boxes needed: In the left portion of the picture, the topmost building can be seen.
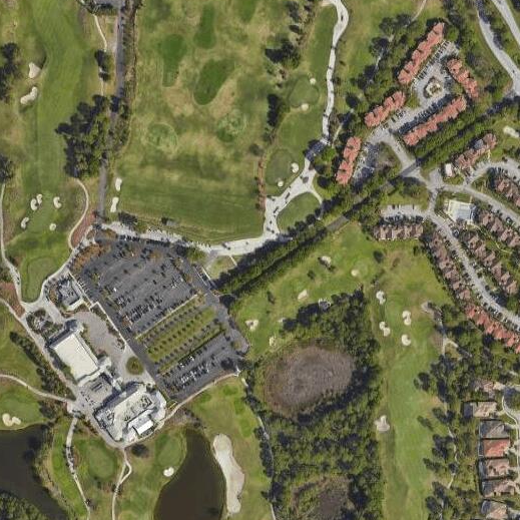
[56,275,87,310]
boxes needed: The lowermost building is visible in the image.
[481,500,509,519]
